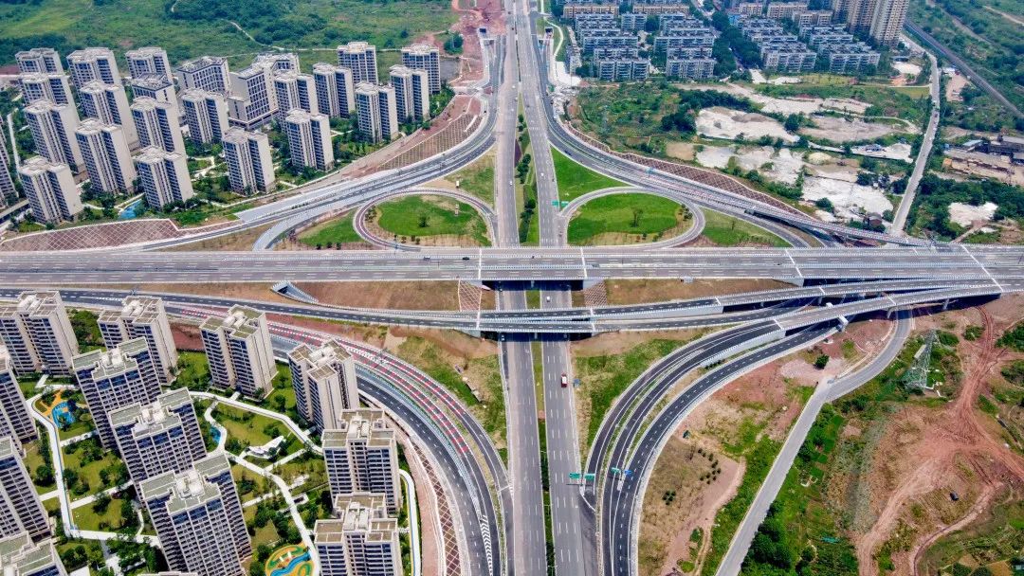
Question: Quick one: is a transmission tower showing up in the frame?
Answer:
Yes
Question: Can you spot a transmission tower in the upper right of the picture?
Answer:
No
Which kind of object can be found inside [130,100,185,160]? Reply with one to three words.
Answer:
building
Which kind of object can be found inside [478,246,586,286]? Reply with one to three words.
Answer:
overpass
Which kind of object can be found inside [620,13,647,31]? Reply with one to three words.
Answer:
building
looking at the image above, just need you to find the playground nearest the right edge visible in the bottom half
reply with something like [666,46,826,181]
[264,543,315,576]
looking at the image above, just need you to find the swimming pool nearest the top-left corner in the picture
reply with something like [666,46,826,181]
[118,198,146,218]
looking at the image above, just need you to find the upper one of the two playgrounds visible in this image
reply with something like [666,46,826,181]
[45,389,76,428]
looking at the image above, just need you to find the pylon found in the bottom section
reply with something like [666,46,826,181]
[897,328,942,393]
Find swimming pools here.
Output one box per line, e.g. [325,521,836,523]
[211,425,222,444]
[118,198,146,218]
